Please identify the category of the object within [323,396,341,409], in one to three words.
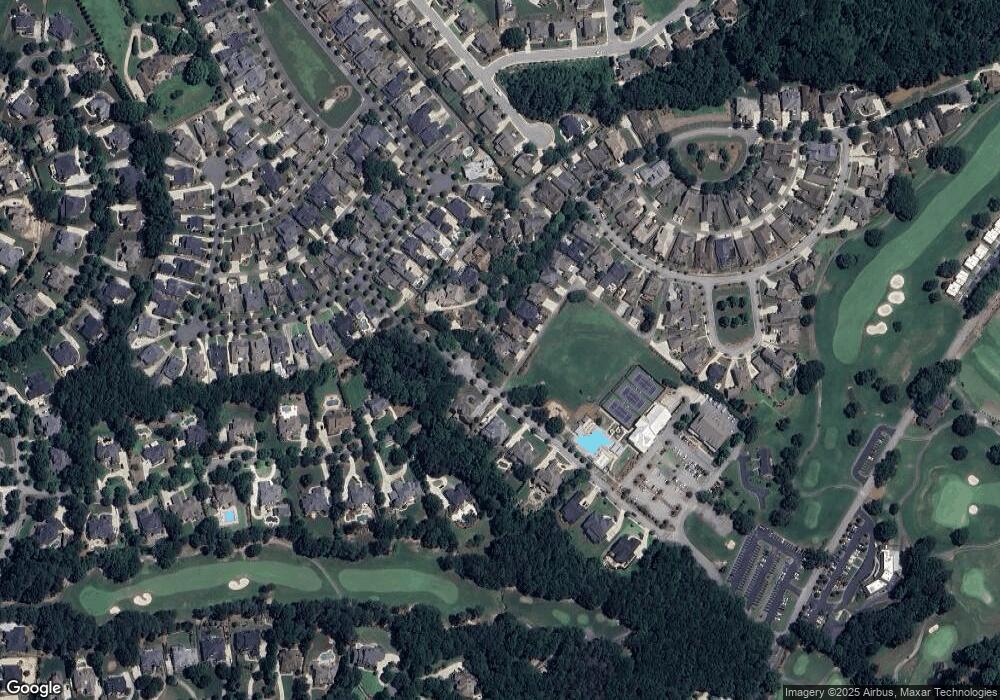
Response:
swimming pool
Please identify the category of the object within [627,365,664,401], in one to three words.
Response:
tennis court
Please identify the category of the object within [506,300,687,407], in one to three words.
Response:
sports field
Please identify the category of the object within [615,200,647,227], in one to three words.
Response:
house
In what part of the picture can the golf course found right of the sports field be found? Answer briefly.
right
